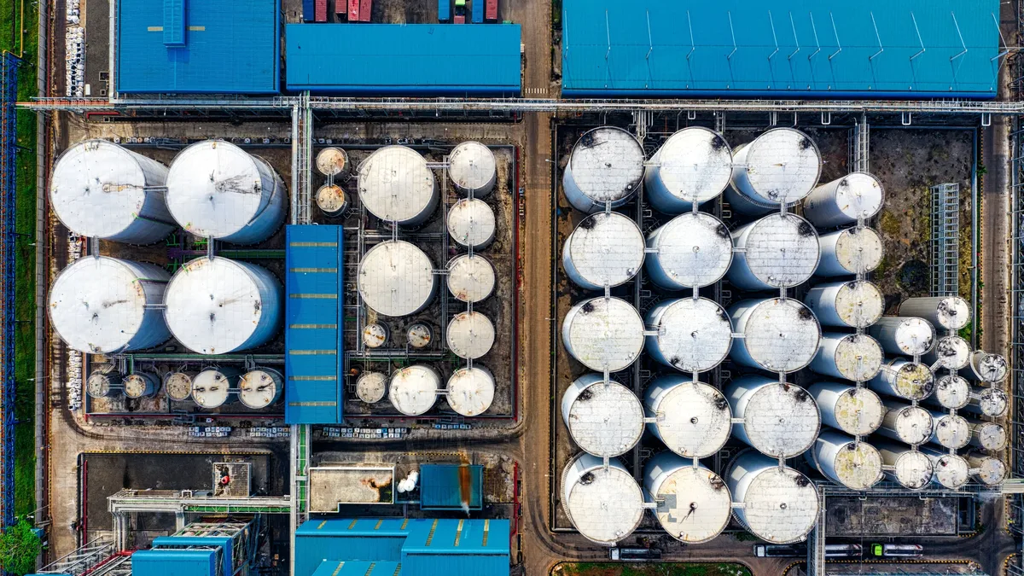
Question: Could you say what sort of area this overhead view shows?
industrial area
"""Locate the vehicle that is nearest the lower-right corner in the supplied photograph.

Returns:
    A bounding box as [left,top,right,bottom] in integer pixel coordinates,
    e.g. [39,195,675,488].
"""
[868,542,924,557]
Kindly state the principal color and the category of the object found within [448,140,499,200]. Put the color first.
white storage tank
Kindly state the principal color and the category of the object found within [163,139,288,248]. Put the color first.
white storage tank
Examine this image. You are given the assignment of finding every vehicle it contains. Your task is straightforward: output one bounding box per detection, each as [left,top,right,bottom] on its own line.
[806,543,864,558]
[608,546,661,561]
[752,543,807,558]
[455,0,467,23]
[868,542,924,557]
